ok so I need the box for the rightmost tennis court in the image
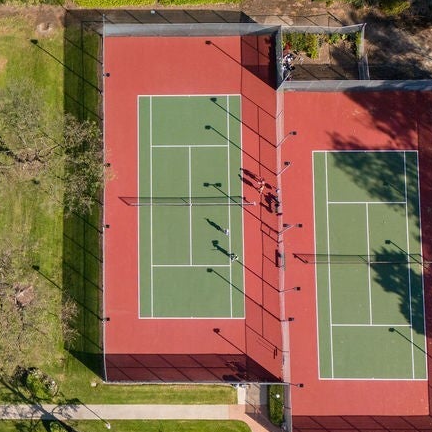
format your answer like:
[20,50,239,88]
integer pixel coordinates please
[276,90,432,432]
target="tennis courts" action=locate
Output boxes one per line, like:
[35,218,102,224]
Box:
[276,90,432,432]
[103,35,282,382]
